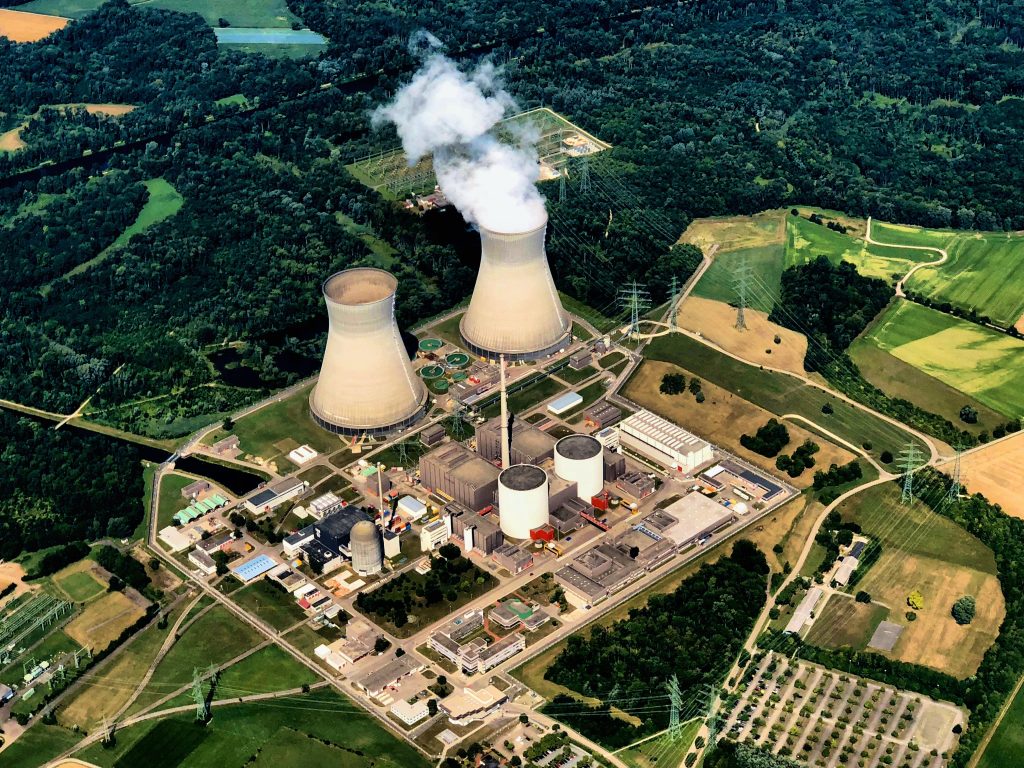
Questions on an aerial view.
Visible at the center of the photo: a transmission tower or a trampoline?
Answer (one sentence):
The one visible at the center of the photo is a transmission tower.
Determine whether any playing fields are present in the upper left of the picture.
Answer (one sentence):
No, I can find no playing field in the upper left of the picture.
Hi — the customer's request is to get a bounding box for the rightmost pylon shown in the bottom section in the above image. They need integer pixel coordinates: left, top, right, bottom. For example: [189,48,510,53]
[946,445,974,504]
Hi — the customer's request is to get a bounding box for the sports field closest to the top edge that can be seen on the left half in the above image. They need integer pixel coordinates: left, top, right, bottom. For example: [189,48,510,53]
[58,569,104,600]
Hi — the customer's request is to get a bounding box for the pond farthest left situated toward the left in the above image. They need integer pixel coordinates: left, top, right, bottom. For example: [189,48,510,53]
[205,346,269,389]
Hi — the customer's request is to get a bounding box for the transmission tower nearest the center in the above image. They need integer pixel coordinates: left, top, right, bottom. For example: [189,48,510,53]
[447,402,469,444]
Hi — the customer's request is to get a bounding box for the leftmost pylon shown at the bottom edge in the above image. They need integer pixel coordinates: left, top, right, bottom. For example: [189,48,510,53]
[97,703,115,749]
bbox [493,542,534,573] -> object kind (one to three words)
building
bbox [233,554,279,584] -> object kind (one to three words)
shed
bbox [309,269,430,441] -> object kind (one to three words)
cooling tower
